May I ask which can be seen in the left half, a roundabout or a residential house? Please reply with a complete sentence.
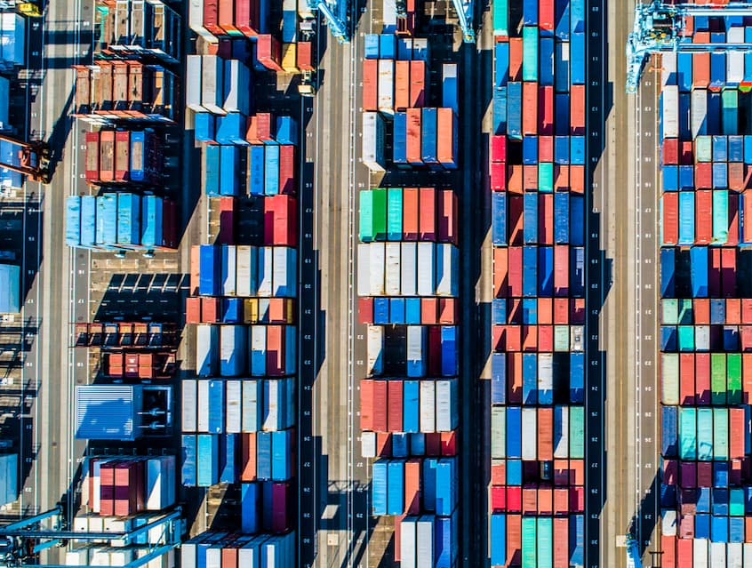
The feature located in the left half is a residential house.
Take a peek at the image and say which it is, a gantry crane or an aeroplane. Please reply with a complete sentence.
The one in the frame is a gantry crane.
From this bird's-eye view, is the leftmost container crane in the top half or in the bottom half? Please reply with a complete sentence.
It is in the top half that the leftmost container crane appears.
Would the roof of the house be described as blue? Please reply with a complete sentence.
Yes, the roof of the house is indeed blue.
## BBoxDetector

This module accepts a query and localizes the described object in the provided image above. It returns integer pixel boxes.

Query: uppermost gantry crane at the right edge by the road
[623,0,752,99]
